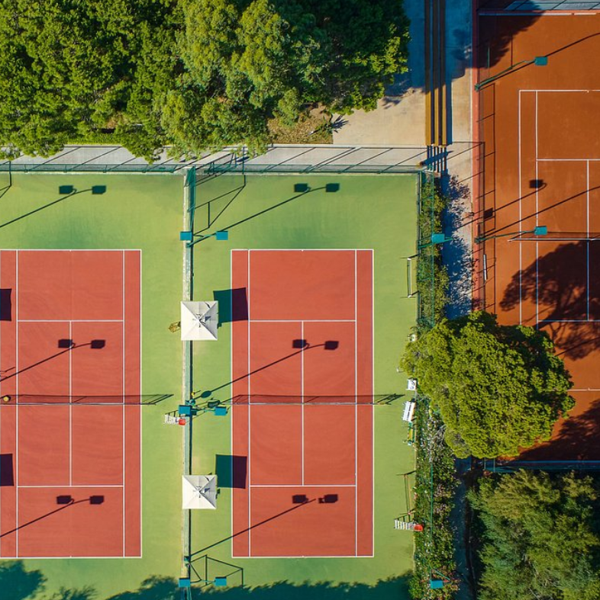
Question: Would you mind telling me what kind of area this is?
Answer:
sports ground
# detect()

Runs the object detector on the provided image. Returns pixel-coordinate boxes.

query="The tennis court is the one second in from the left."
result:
[190,171,417,600]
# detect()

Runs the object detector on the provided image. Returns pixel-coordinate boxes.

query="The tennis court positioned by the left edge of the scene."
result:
[0,171,184,600]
